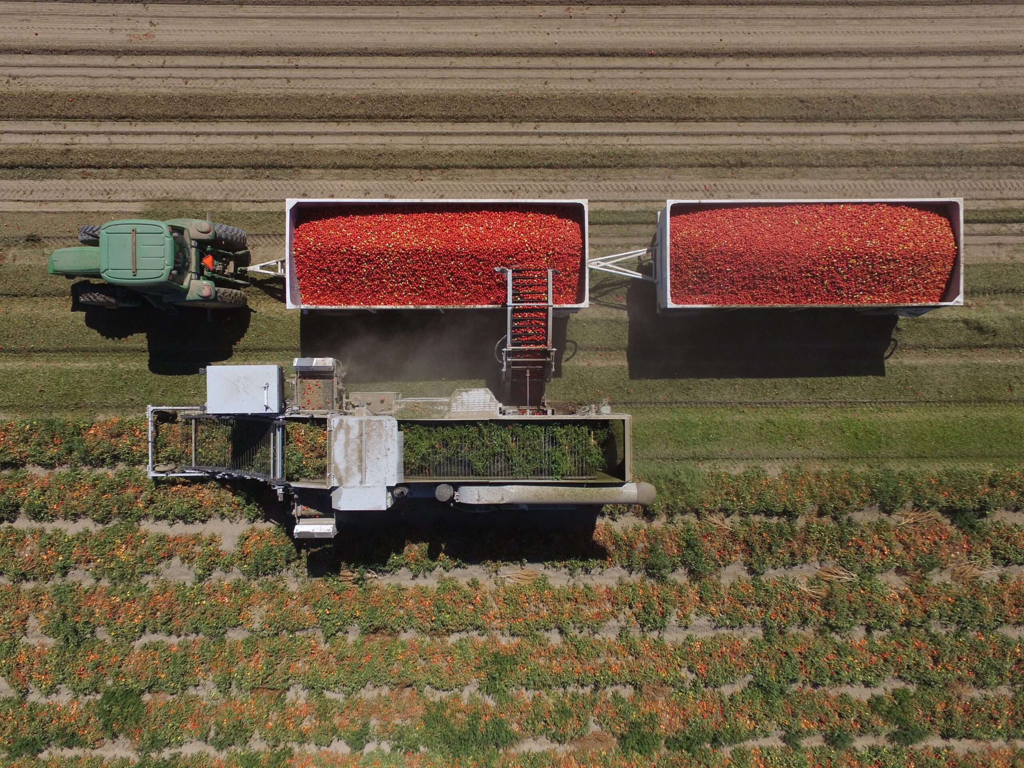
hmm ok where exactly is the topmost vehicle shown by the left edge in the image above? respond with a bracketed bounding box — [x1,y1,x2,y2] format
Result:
[45,212,250,323]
